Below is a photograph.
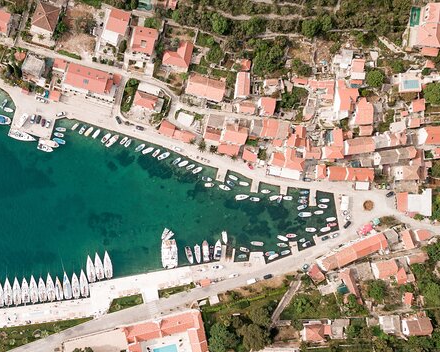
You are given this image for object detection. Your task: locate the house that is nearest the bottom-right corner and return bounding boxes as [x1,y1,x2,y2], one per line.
[401,316,433,336]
